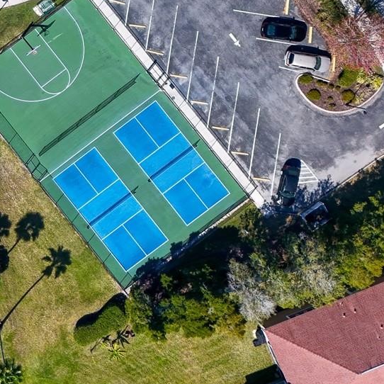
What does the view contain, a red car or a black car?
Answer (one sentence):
Of the two, only a black car appears.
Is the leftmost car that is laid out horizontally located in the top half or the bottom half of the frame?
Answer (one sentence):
It is in the top half that the leftmost car that is laid out horizontally appears.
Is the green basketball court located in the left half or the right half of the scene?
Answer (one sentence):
You can find the green basketball court on the left side of the picture.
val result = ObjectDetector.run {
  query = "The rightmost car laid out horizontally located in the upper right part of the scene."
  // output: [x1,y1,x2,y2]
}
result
[283,51,332,73]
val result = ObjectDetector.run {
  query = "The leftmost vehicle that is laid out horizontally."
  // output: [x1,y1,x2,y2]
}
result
[258,19,307,41]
